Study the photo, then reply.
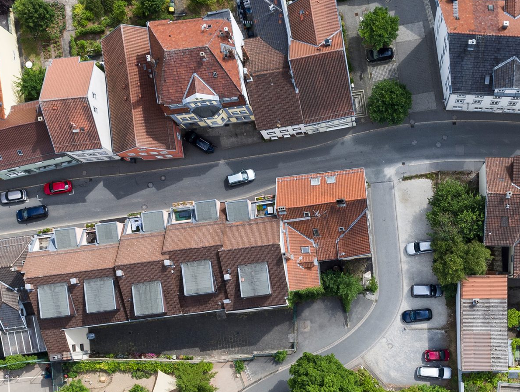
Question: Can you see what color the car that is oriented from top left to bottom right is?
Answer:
black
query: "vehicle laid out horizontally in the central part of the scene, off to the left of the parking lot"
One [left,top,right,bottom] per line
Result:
[225,169,257,186]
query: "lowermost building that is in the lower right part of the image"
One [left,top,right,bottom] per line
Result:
[460,274,509,372]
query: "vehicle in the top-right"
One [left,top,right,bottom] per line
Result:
[366,47,394,62]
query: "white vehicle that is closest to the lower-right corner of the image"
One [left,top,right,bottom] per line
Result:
[417,366,451,379]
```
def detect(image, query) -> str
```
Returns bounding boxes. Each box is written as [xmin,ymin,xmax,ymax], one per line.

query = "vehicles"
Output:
[424,348,450,363]
[417,366,451,379]
[404,241,436,256]
[184,129,216,155]
[225,169,257,186]
[366,47,394,62]
[45,180,74,194]
[16,205,49,222]
[2,189,28,203]
[402,308,434,323]
[411,284,442,298]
